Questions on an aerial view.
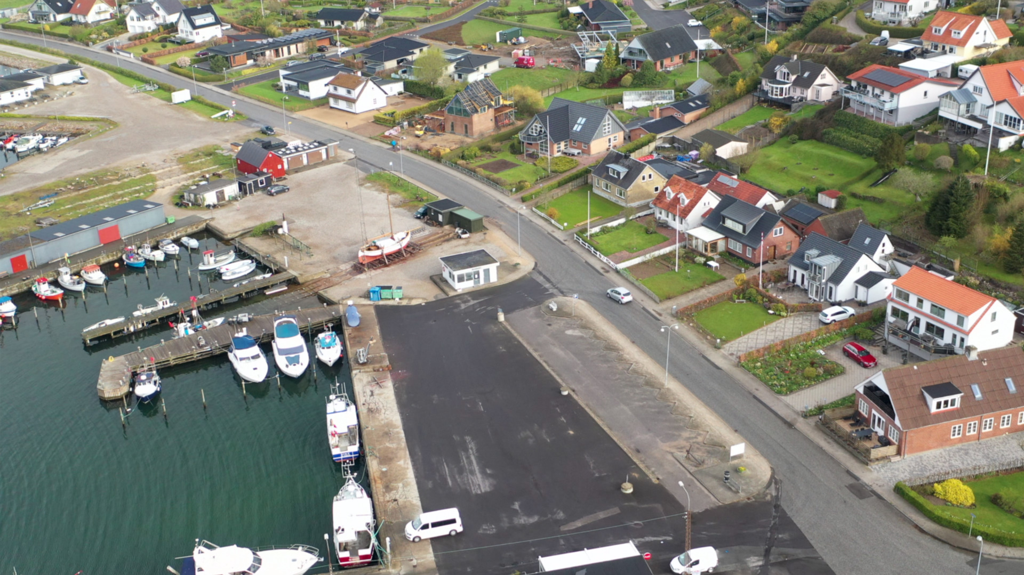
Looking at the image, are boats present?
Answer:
Yes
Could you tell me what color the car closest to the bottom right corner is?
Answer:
red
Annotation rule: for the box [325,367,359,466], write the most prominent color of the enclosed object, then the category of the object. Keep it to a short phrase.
white ship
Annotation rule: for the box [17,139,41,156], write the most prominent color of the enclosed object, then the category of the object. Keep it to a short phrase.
white boat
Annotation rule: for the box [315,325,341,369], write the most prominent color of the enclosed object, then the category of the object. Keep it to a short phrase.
white boat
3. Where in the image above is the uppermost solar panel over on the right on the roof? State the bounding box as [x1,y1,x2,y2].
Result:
[860,67,912,86]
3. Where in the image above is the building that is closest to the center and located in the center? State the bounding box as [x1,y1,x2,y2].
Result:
[438,250,498,287]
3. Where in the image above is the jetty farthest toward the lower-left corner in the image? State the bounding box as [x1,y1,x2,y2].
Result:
[96,355,133,405]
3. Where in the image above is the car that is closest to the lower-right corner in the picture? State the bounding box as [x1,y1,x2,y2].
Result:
[841,342,881,368]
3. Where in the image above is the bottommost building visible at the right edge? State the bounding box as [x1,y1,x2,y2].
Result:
[842,341,1024,459]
